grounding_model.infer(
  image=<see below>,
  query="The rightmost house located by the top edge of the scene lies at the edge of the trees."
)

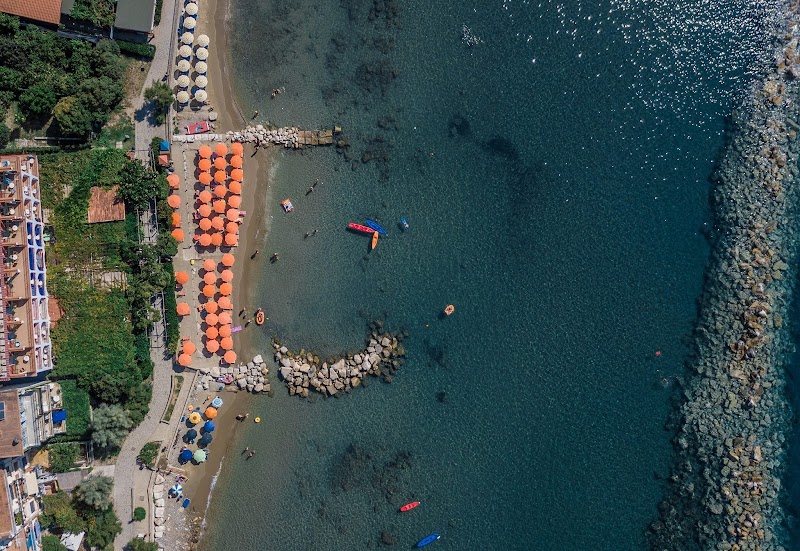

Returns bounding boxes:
[115,0,166,41]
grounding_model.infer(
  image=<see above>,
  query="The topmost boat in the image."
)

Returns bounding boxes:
[186,120,209,134]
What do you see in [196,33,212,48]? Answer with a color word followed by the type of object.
white umbrella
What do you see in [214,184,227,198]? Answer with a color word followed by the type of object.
orange umbrella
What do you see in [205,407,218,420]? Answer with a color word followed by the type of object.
orange umbrella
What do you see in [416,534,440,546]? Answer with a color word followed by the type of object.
blue boat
